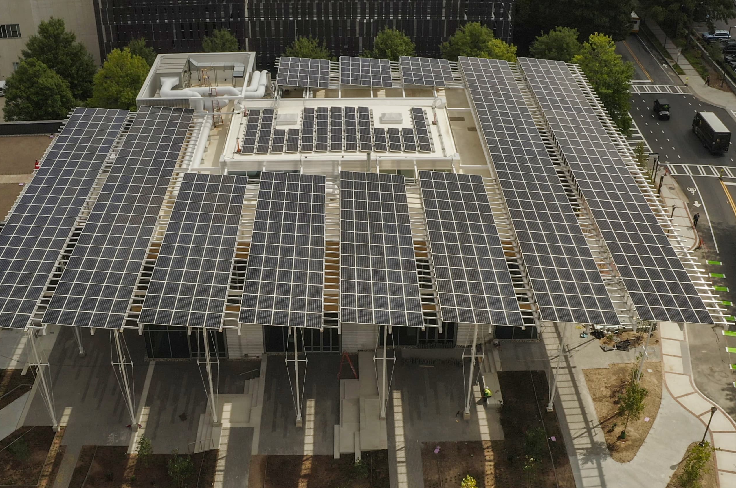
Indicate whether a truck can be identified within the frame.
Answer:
Yes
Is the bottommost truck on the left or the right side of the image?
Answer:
right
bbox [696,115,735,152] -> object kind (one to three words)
truck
